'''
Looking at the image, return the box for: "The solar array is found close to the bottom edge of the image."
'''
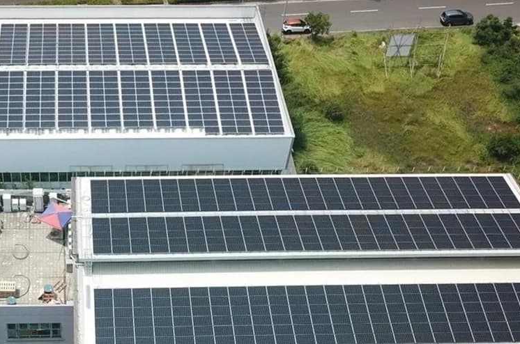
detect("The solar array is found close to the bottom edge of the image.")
[94,283,520,344]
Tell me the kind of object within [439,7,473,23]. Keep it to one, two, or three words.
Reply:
car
